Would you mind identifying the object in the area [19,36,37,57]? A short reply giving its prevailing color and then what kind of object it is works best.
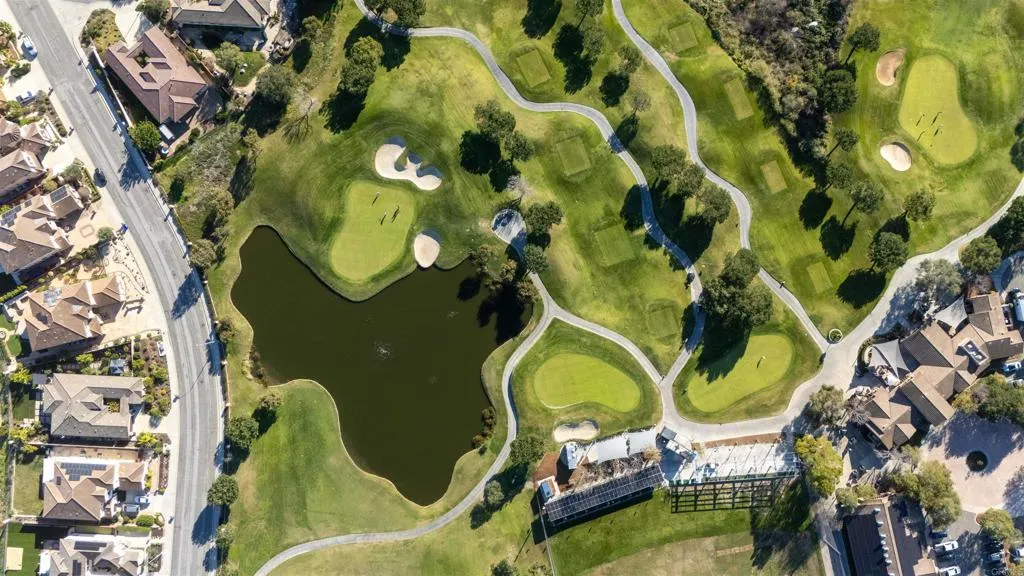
white car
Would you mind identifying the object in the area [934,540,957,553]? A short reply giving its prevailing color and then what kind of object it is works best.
white vehicle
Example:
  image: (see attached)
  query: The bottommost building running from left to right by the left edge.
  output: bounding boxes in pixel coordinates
[49,538,143,576]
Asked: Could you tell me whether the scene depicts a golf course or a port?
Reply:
golf course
